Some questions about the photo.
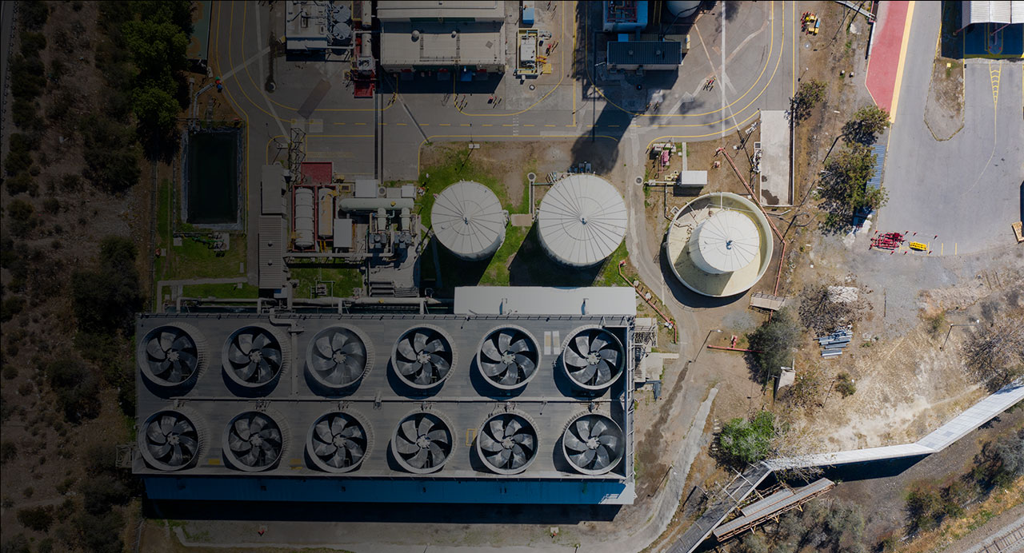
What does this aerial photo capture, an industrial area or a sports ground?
industrial area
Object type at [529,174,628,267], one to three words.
storage tank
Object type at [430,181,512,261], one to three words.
storage tank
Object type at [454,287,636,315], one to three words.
building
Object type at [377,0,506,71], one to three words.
building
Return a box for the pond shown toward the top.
[181,124,245,232]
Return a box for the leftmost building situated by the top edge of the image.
[286,0,331,52]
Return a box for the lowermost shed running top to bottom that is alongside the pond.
[258,216,288,289]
